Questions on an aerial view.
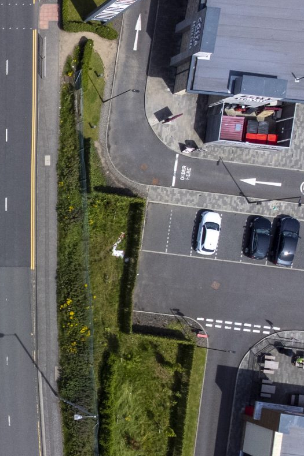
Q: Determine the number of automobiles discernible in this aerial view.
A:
3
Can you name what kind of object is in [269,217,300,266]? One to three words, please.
car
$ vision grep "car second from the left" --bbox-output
[244,217,273,259]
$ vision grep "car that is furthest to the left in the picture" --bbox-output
[193,210,221,256]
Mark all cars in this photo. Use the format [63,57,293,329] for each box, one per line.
[193,210,221,256]
[269,217,300,266]
[244,217,273,259]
